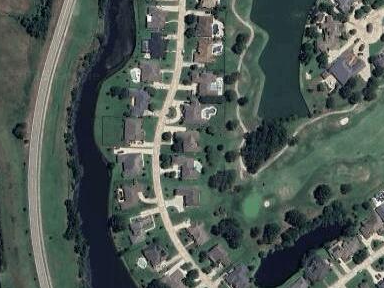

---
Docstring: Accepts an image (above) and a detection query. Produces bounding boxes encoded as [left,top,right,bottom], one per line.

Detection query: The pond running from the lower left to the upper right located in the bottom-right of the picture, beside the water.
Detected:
[255,222,347,288]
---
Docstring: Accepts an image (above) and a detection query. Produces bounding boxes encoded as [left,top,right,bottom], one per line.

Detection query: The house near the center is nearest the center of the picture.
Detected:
[175,133,202,152]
